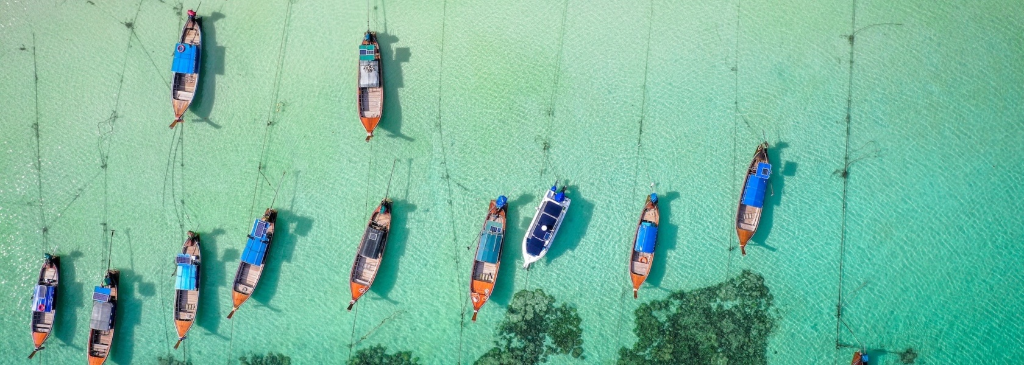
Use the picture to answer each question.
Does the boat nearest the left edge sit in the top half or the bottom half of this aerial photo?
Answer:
bottom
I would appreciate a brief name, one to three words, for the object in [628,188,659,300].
boat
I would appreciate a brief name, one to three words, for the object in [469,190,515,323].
boat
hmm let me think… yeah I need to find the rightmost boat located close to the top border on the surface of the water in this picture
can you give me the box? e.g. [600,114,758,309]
[356,0,383,142]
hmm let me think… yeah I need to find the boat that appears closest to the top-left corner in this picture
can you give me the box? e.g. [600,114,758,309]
[168,1,206,129]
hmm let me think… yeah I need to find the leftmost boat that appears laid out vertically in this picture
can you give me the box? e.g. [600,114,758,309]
[27,246,65,359]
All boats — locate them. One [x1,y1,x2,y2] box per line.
[27,246,65,359]
[226,171,287,319]
[168,1,206,129]
[628,188,659,300]
[735,130,771,256]
[89,230,123,365]
[173,225,205,350]
[469,190,515,323]
[356,0,383,142]
[347,161,395,312]
[521,179,571,273]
